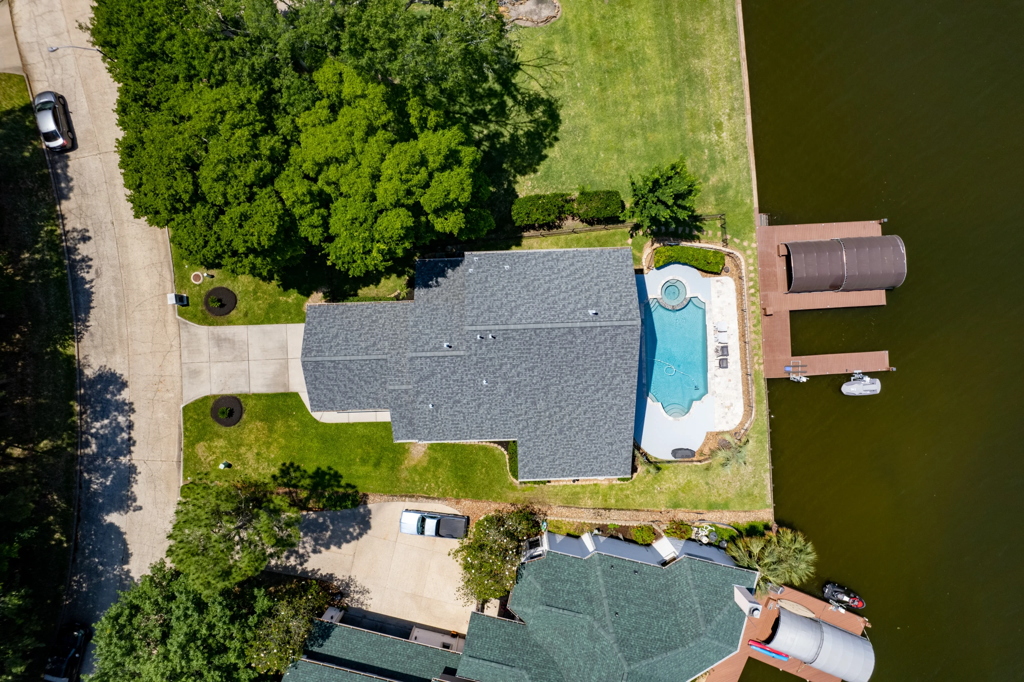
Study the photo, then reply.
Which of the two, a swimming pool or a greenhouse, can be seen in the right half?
swimming pool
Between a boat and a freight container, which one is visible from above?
boat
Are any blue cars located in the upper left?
No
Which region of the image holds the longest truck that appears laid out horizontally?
bottom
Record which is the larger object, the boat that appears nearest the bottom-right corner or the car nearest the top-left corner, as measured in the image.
the car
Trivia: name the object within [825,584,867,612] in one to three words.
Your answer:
boat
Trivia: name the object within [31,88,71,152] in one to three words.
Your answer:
car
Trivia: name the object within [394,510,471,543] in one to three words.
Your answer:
truck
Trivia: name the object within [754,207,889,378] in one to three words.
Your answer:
pier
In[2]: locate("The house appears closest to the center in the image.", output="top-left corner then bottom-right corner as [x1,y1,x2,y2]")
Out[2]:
[301,245,641,482]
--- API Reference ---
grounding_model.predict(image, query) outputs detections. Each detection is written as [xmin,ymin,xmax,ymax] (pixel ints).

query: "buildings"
[301,245,641,482]
[281,529,762,682]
